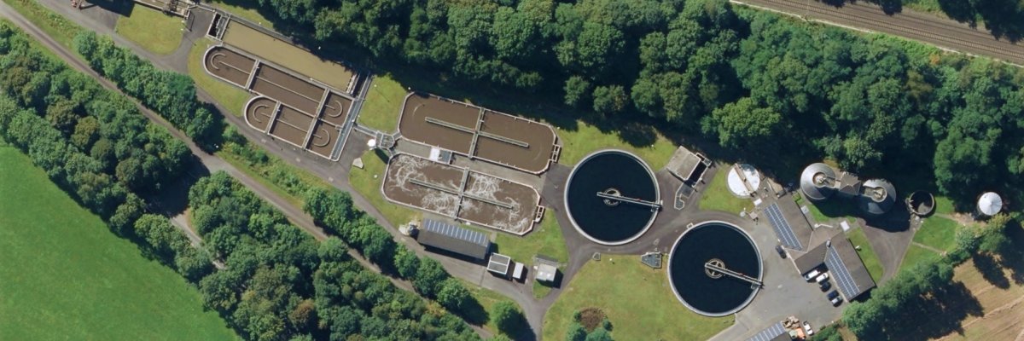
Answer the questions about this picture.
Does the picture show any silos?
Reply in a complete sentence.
Yes, looking at the shot, I can spot a silo.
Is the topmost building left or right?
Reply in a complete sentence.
It is on the right.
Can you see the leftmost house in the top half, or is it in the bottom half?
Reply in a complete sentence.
The leftmost house sits in the bottom half of the picture.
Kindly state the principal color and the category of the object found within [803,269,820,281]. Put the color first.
white vehicle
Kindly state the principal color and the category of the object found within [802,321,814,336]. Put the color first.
white vehicle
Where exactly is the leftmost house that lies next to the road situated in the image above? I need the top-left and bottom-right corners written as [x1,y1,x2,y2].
[416,219,489,259]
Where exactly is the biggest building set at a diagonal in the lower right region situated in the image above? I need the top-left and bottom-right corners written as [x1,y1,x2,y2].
[761,193,875,303]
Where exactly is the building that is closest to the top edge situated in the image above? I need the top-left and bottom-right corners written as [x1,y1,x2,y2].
[667,145,701,180]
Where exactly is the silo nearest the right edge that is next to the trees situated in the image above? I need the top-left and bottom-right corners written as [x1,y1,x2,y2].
[978,192,1002,216]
